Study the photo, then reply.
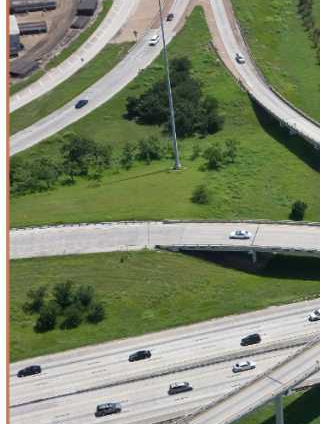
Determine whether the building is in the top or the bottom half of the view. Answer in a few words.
top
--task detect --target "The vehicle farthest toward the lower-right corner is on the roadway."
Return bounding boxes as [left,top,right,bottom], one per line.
[232,361,255,373]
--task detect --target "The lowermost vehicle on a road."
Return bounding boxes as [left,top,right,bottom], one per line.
[95,403,120,416]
